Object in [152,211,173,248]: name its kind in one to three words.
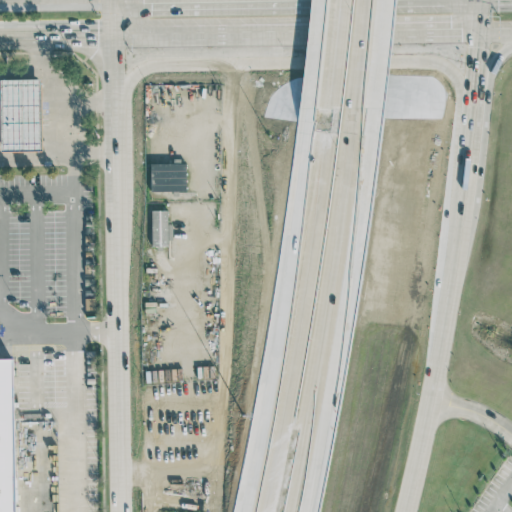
barn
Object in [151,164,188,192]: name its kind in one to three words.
building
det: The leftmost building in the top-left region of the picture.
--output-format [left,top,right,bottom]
[0,80,42,153]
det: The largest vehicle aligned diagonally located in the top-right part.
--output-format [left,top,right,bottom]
[490,50,506,74]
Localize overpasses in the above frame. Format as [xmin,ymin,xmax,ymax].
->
[300,0,396,108]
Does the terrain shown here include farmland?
No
